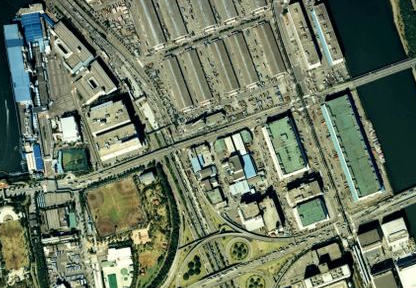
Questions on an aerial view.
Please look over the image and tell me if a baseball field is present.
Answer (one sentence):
Yes, a baseball field appears in the view.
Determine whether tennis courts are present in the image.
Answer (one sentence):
No, there's no tennis court here.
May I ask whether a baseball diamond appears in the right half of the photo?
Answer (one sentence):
No, there's no baseball diamond to be seen in the right half of the photo.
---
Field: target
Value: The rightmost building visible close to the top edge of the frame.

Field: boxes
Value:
[312,2,345,66]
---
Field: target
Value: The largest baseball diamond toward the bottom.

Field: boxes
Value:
[88,175,148,237]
